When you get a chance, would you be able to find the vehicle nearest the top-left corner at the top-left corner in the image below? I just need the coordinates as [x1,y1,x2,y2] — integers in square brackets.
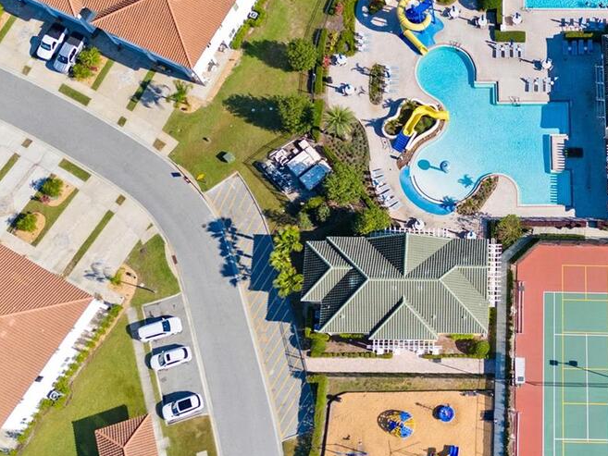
[37,22,67,61]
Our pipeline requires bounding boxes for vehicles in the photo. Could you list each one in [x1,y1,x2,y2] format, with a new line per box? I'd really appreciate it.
[37,22,67,61]
[138,316,182,341]
[161,395,203,420]
[149,345,192,369]
[54,36,85,74]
